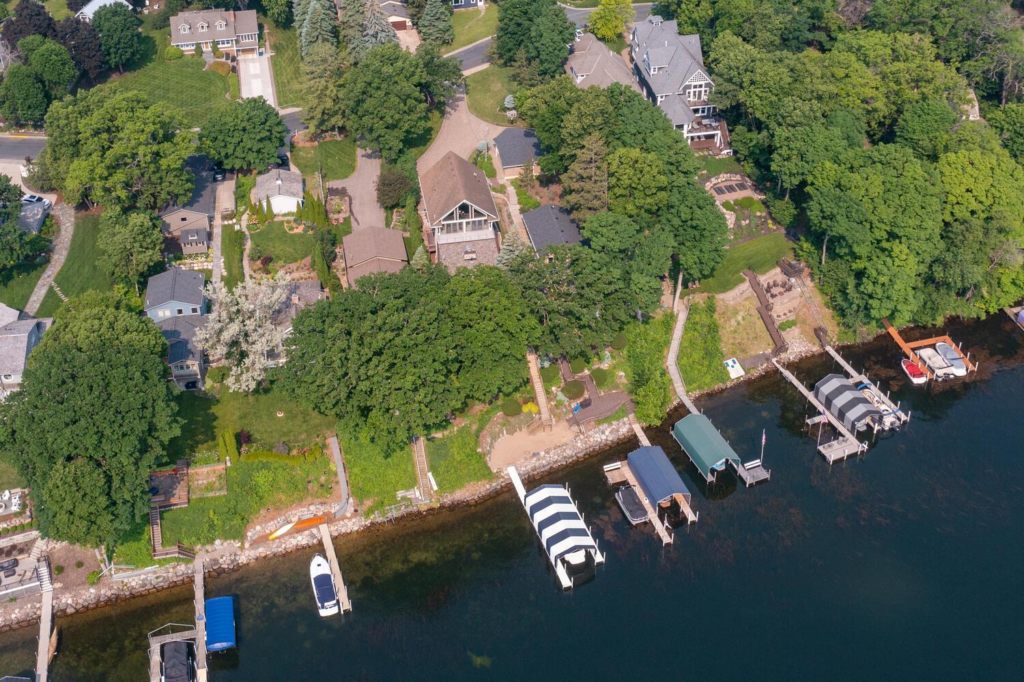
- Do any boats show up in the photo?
Yes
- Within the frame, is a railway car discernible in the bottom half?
No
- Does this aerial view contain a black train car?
No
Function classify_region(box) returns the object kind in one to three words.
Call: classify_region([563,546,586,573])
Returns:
boat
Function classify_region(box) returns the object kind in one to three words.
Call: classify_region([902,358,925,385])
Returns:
boat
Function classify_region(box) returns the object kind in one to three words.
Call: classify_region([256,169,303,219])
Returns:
building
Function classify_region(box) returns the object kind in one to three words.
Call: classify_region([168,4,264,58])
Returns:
house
